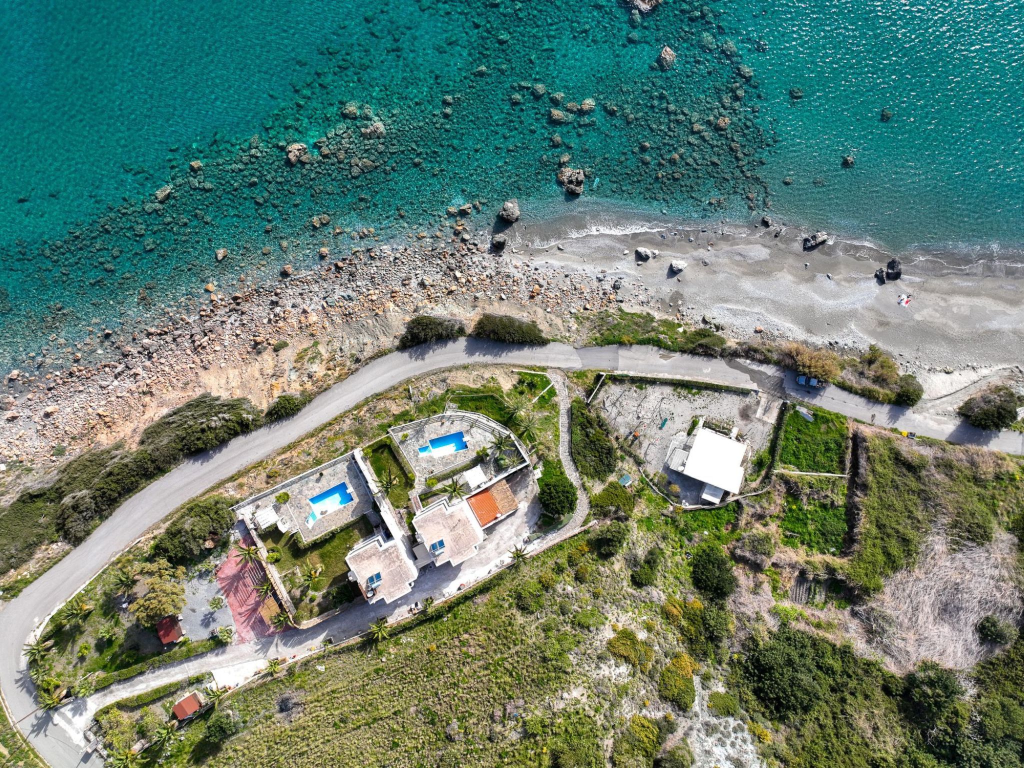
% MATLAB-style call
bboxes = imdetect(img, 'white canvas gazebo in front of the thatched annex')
[463,464,488,490]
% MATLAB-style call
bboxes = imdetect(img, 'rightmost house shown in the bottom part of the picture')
[679,426,748,504]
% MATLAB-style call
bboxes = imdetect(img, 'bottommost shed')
[173,691,201,720]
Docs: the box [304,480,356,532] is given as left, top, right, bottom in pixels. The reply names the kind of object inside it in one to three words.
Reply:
swimming pool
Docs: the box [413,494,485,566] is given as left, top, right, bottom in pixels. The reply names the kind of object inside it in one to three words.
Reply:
house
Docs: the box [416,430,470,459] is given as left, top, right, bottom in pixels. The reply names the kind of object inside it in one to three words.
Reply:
swimming pool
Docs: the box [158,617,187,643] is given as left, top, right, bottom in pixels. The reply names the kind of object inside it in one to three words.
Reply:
shed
